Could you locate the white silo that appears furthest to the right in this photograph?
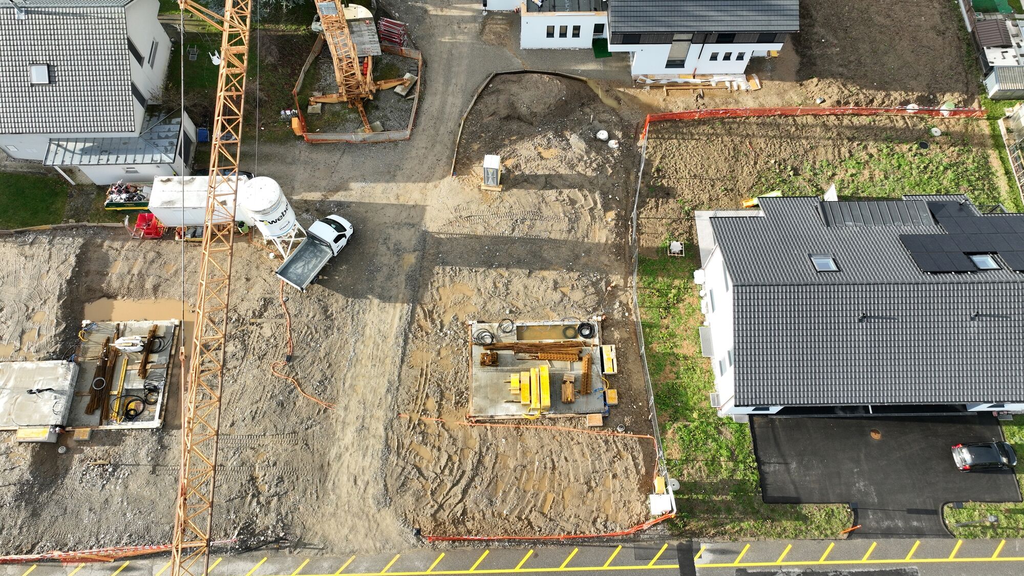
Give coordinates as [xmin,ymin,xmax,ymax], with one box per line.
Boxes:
[235,178,308,261]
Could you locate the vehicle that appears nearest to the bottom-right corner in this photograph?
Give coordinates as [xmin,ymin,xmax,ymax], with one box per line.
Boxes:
[947,437,1019,474]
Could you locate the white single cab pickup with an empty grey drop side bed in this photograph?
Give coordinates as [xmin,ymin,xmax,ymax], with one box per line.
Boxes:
[277,215,353,292]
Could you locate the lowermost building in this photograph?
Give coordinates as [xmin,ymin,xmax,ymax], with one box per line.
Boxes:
[695,194,1024,420]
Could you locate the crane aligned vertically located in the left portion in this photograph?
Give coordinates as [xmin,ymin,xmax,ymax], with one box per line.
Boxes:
[169,0,409,576]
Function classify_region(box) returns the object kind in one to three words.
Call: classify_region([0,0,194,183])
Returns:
house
